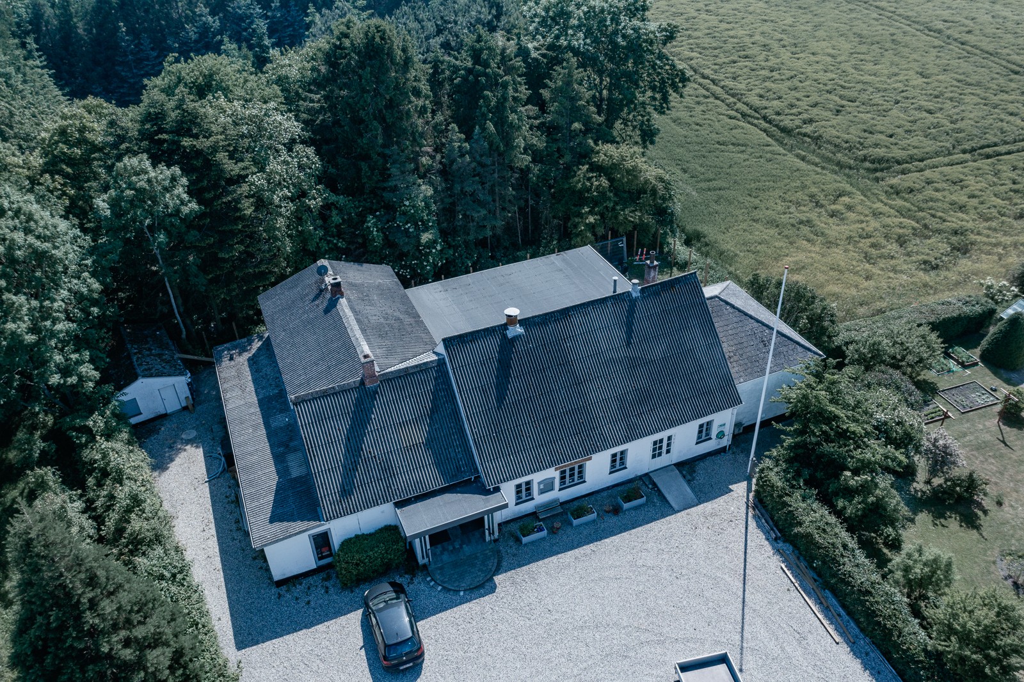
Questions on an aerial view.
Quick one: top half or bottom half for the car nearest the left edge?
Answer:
bottom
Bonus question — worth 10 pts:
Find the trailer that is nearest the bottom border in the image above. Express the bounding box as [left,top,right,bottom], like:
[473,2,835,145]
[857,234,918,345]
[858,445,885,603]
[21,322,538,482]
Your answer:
[673,648,745,682]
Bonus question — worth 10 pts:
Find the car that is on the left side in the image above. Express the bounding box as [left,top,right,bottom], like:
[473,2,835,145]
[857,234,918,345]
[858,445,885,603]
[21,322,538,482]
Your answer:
[363,581,428,679]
